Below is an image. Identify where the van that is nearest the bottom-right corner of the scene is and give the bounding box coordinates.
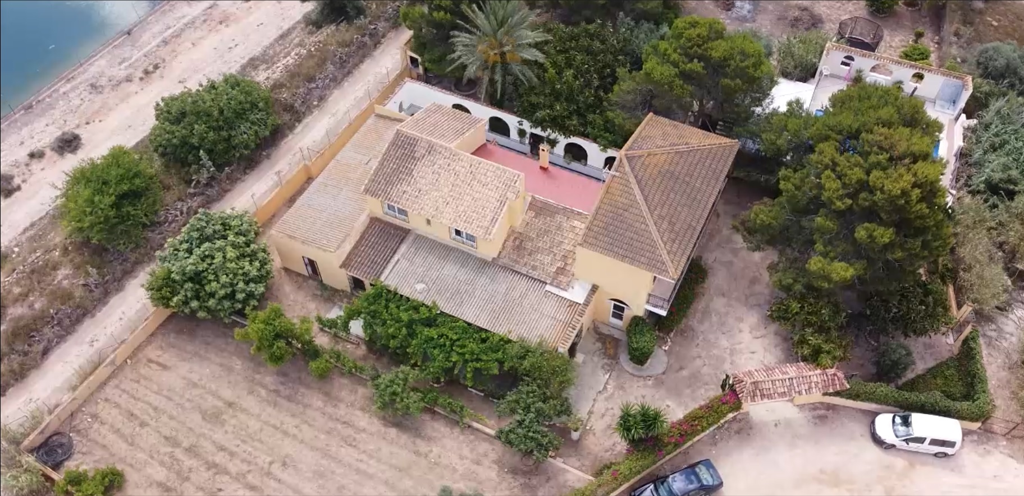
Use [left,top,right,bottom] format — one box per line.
[869,409,968,459]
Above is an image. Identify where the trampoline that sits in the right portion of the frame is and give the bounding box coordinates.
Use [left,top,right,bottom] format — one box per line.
[837,10,888,49]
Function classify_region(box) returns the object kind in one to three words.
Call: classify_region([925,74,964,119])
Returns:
building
